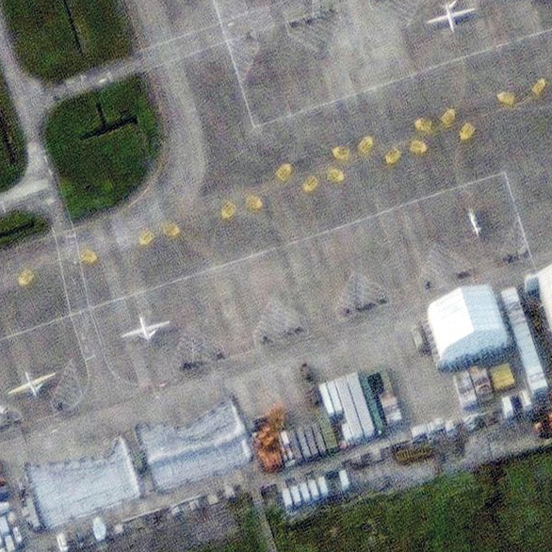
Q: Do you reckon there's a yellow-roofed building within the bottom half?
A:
Yes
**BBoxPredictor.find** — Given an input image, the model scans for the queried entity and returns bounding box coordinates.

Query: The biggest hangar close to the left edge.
[26,435,142,530]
